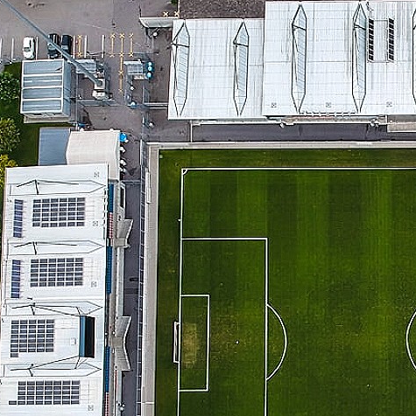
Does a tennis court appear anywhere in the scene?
No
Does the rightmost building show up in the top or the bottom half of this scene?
top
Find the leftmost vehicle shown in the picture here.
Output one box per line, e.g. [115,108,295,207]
[23,36,37,57]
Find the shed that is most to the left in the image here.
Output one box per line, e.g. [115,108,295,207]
[19,58,74,125]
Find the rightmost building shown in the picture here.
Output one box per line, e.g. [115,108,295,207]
[123,59,149,80]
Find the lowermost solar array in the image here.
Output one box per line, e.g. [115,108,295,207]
[8,380,78,404]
